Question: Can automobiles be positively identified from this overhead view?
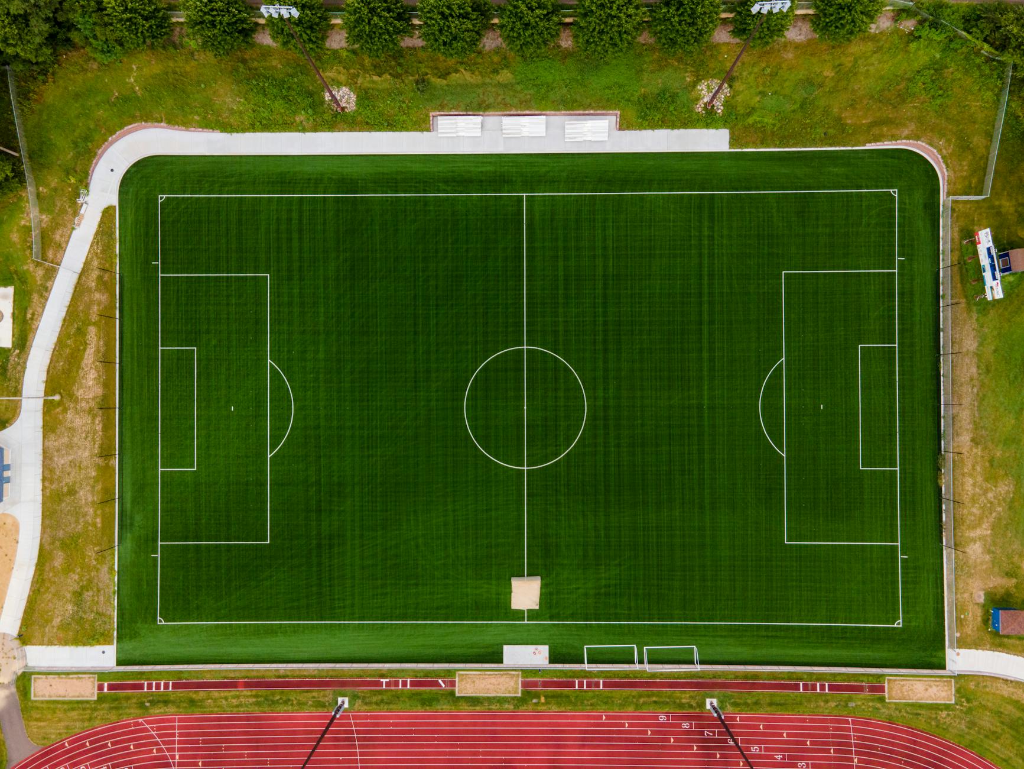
No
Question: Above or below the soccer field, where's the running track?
below it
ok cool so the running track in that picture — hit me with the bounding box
[9,710,1002,769]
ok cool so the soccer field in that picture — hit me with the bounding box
[115,146,949,669]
